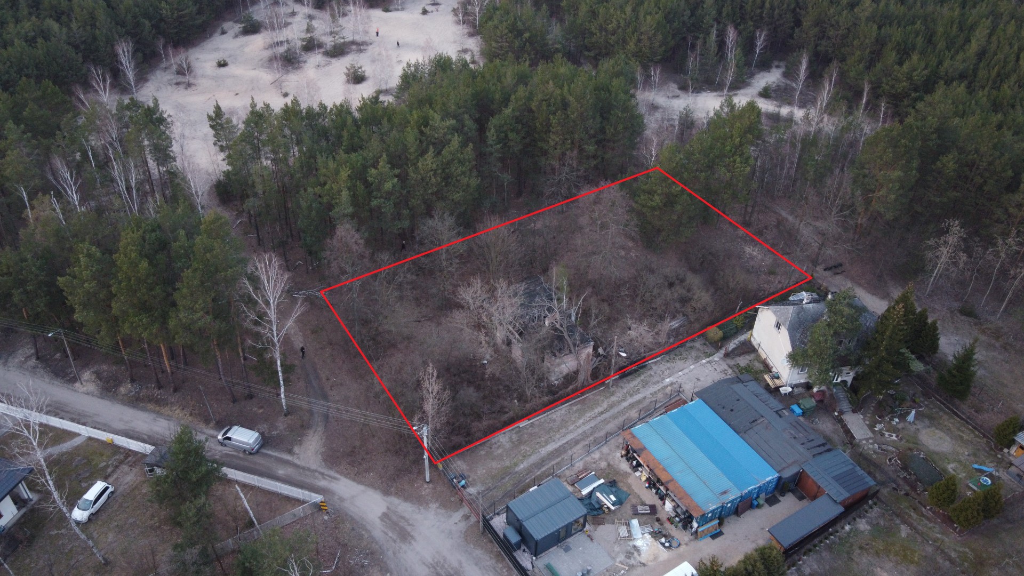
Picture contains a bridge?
No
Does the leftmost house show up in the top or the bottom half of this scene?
bottom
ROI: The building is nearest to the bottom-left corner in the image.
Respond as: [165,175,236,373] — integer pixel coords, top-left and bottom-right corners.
[0,460,49,539]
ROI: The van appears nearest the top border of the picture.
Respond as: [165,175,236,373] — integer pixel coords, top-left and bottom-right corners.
[214,430,262,460]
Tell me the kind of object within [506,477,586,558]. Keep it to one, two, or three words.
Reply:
building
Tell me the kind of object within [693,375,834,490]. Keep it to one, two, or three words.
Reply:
building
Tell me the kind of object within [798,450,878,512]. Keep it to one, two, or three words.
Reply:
shed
